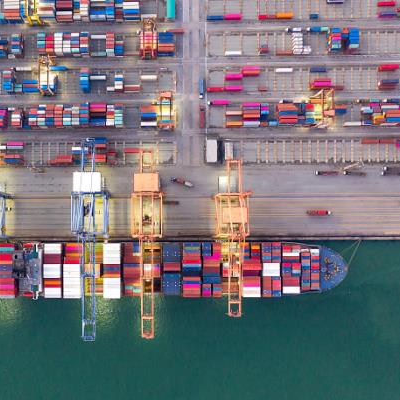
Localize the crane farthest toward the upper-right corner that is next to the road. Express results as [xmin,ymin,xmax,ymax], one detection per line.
[312,89,338,132]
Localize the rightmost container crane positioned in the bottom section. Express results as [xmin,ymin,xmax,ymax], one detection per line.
[204,161,252,320]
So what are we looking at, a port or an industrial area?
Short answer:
port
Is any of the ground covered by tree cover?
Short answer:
No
